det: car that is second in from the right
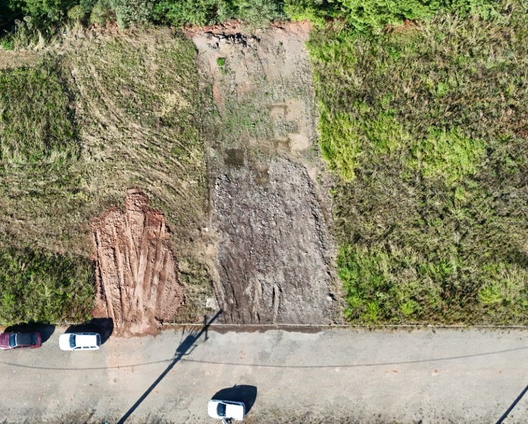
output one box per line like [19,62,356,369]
[58,332,100,350]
